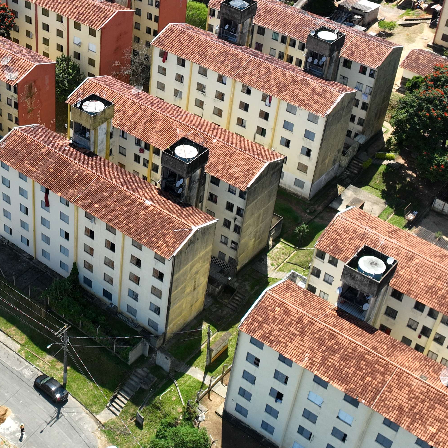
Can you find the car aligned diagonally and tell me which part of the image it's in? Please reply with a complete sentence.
You can find the car aligned diagonally in the bottom left area of the picture.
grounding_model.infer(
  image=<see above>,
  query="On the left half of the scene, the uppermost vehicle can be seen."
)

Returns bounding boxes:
[31,372,69,403]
